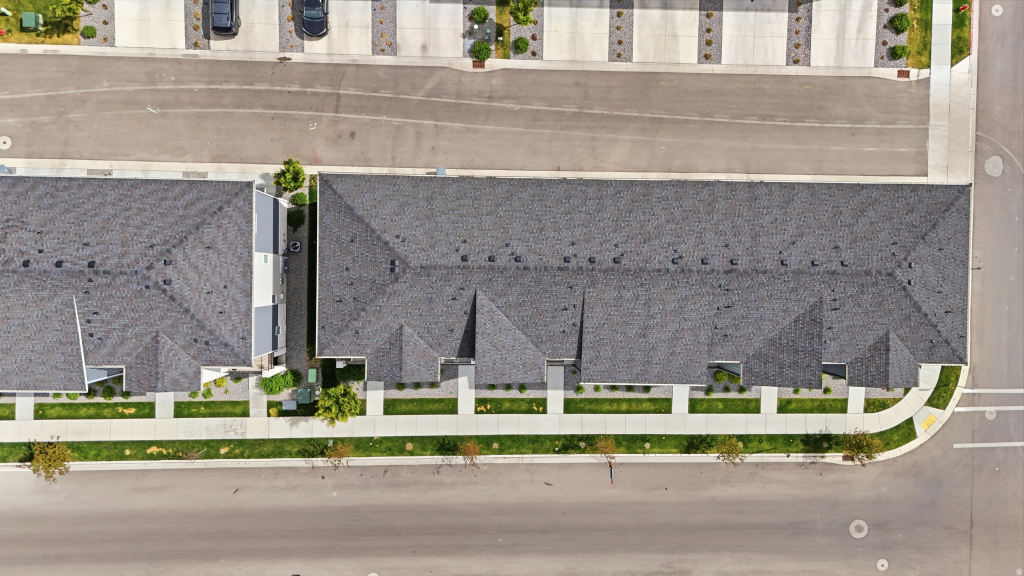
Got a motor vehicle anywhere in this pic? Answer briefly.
Yes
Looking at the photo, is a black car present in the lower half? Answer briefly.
No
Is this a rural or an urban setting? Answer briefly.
urban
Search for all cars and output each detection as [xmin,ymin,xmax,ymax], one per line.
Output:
[209,0,241,36]
[299,0,331,38]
